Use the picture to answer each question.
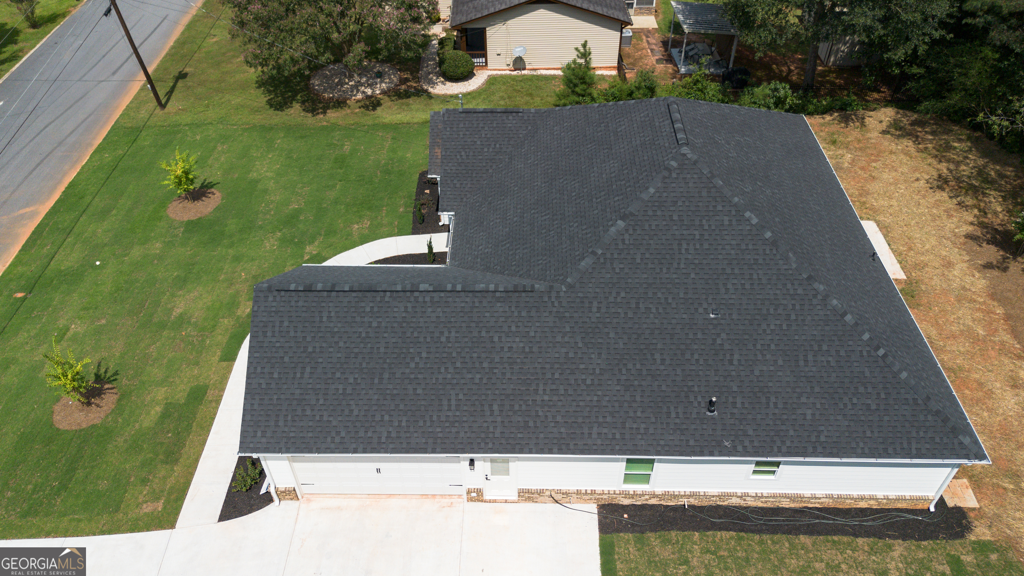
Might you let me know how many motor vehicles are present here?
zero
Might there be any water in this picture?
No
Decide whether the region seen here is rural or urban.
urban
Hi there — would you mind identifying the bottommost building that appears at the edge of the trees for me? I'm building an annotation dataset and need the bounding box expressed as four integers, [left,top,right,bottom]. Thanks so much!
[237,97,990,516]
